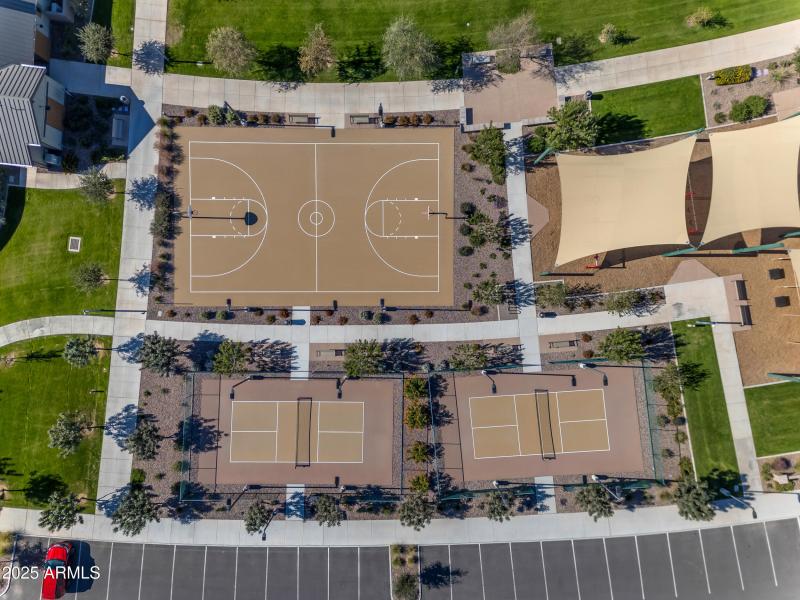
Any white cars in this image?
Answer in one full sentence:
No, no white car is visible in the scene.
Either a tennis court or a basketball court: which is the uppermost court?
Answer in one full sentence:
It turns out the uppermost court is a basketball court.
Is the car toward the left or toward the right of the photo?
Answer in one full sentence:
The car is on the left side of the image.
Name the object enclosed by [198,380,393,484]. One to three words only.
sports court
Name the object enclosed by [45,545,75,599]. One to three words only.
car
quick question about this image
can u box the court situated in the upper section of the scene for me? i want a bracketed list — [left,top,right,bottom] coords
[173,126,454,306]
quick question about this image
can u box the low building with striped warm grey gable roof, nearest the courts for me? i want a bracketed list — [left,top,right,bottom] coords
[0,65,63,166]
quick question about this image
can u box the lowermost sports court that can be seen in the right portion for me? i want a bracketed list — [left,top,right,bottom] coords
[438,366,644,482]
